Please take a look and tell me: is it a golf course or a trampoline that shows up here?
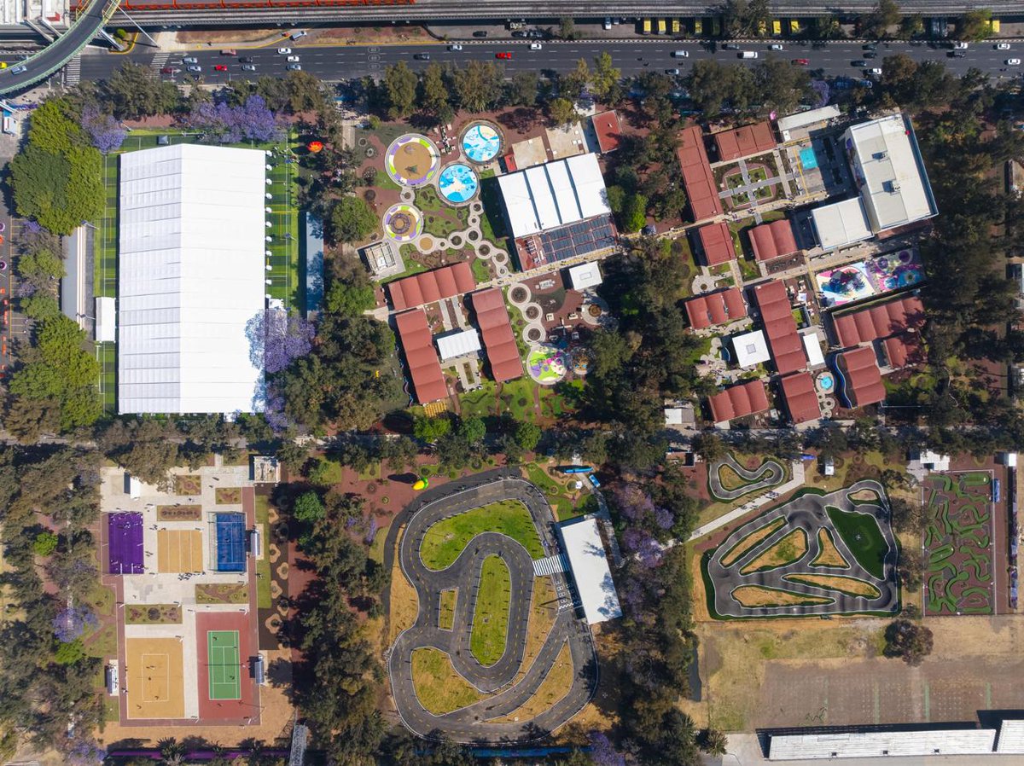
golf course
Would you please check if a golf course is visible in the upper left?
No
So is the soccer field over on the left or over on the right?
left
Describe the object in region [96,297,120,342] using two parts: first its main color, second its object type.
white tent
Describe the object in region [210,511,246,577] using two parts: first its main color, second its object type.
blue sports court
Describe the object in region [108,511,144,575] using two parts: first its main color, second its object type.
purple sports court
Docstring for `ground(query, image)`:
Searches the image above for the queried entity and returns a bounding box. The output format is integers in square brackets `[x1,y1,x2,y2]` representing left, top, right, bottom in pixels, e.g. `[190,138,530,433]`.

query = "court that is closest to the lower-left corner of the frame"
[126,637,185,719]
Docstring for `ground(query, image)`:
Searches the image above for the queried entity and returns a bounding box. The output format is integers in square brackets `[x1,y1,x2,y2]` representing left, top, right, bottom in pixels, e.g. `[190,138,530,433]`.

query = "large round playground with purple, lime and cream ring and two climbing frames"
[385,133,440,188]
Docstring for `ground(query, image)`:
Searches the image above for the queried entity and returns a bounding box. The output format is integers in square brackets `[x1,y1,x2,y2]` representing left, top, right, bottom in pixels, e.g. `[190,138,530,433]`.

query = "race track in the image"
[390,479,598,744]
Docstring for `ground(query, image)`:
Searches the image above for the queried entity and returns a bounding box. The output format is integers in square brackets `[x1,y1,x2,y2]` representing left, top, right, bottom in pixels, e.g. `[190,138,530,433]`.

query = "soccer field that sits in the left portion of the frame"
[94,128,300,420]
